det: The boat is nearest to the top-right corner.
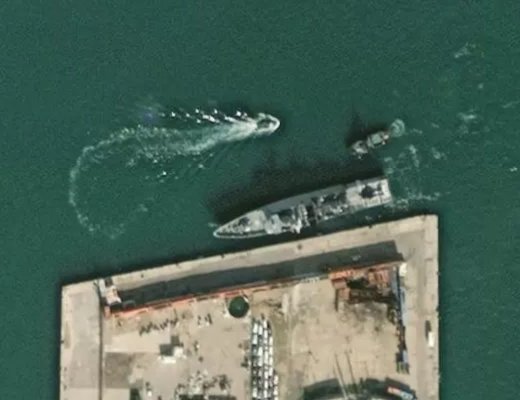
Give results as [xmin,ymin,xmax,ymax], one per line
[349,130,389,156]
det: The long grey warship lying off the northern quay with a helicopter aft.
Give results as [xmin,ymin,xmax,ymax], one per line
[213,175,394,240]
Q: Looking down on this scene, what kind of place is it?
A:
port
